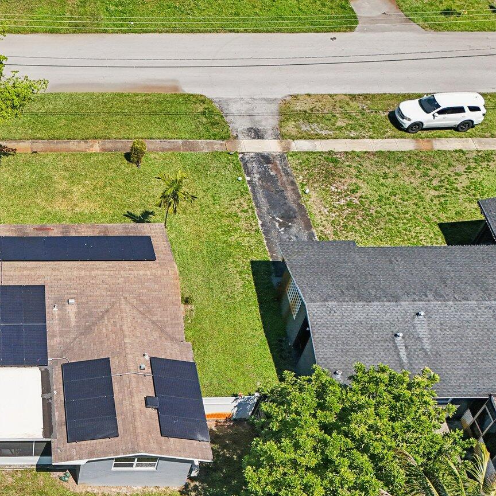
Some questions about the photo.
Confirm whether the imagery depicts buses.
No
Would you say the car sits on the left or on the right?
right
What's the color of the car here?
white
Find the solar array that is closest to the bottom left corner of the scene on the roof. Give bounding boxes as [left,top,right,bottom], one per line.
[62,358,118,442]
